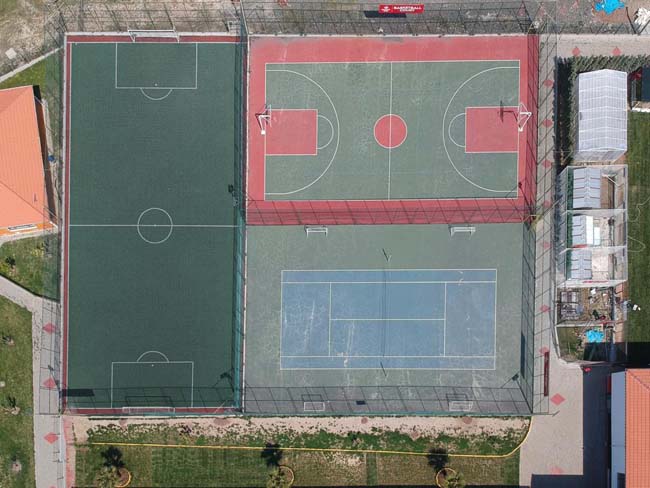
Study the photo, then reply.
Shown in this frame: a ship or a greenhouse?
greenhouse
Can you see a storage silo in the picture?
No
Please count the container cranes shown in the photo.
0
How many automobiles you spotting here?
none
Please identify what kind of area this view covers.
sports ground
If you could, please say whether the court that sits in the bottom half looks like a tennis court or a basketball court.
tennis court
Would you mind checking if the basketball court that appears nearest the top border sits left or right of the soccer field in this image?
to the right of it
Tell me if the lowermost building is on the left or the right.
right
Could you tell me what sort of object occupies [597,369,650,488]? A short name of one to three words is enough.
building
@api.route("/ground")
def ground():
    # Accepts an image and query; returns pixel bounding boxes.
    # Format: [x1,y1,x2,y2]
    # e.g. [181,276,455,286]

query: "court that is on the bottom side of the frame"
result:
[244,223,535,416]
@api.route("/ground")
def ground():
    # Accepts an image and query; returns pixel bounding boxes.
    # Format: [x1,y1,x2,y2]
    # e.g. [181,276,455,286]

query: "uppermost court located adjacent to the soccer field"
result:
[246,37,538,225]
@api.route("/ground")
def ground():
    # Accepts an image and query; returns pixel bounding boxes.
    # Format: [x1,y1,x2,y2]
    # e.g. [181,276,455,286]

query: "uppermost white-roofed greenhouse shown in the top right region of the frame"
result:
[571,67,628,164]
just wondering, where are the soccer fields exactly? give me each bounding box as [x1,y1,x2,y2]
[62,35,247,412]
